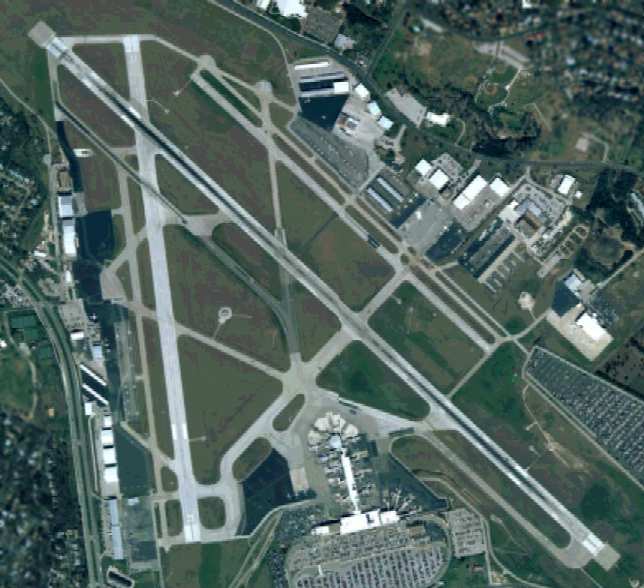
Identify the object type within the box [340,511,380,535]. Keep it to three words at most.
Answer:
building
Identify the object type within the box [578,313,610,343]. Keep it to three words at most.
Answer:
hangar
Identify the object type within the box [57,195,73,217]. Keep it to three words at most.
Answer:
hangar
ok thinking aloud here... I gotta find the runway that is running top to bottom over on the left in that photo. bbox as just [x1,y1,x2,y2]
[124,34,199,544]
